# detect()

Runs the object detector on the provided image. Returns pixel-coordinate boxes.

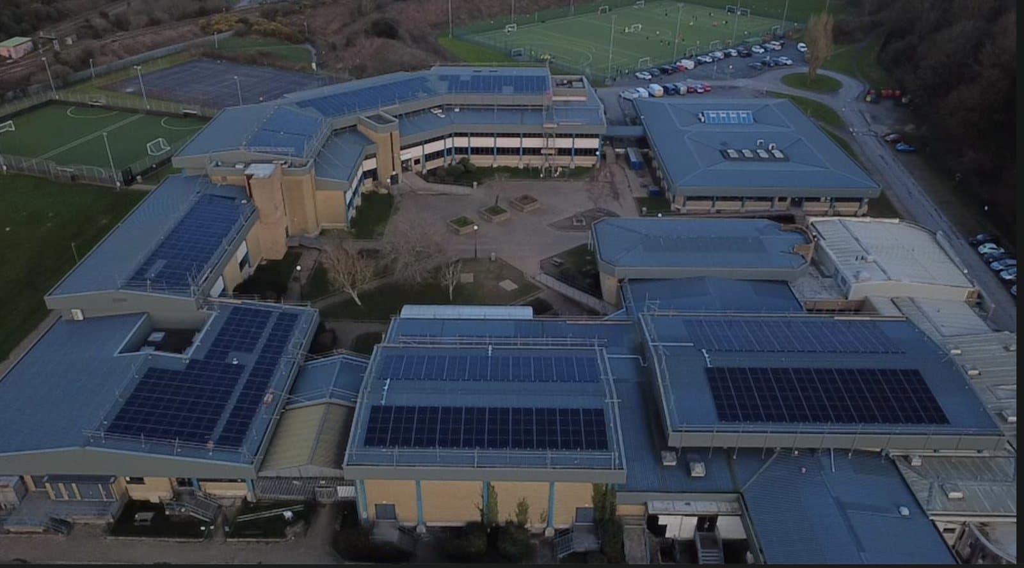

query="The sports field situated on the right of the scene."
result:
[463,0,803,78]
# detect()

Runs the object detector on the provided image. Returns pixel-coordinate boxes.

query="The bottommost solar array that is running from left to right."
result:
[361,403,609,455]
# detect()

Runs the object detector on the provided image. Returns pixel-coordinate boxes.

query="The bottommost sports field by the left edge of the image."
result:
[0,101,210,181]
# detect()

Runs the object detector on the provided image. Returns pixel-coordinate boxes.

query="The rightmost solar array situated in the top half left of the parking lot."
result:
[454,73,547,93]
